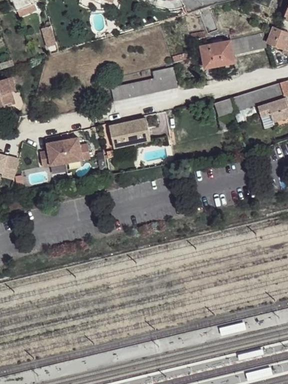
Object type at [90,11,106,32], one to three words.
swimming pool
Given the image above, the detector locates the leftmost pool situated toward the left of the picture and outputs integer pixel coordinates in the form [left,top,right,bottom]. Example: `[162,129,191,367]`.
[28,170,48,184]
